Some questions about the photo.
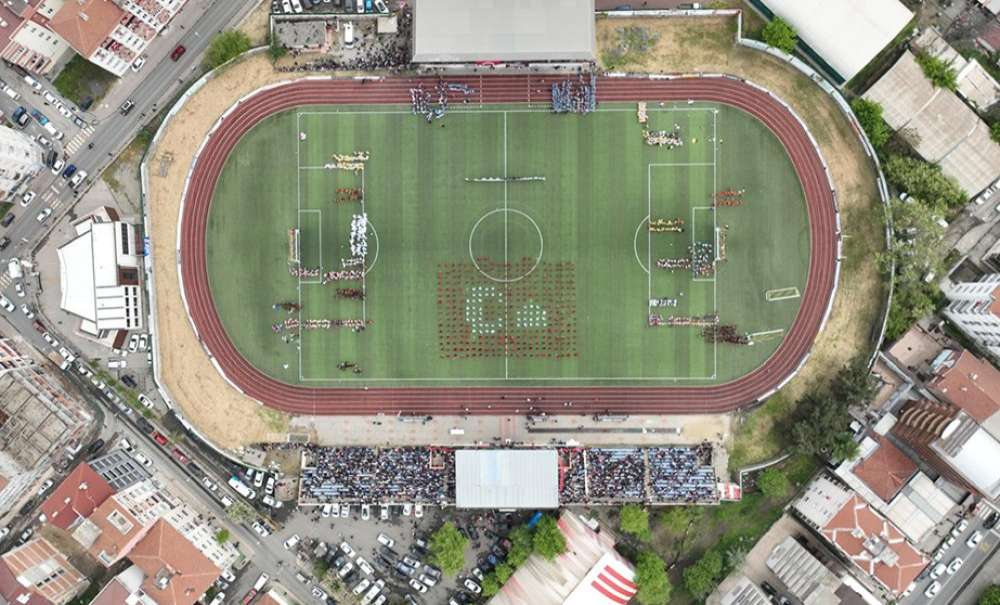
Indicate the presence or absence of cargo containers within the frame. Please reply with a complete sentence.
No, no cargo container is visible in the scene.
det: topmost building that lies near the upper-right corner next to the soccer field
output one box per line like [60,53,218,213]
[739,0,915,91]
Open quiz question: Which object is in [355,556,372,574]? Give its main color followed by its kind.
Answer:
white vehicle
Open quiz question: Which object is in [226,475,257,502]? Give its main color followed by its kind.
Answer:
white bus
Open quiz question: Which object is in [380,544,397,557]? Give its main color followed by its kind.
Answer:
gray vehicle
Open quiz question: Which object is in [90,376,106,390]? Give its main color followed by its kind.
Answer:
white car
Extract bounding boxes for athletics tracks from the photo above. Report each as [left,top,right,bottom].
[179,74,839,416]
